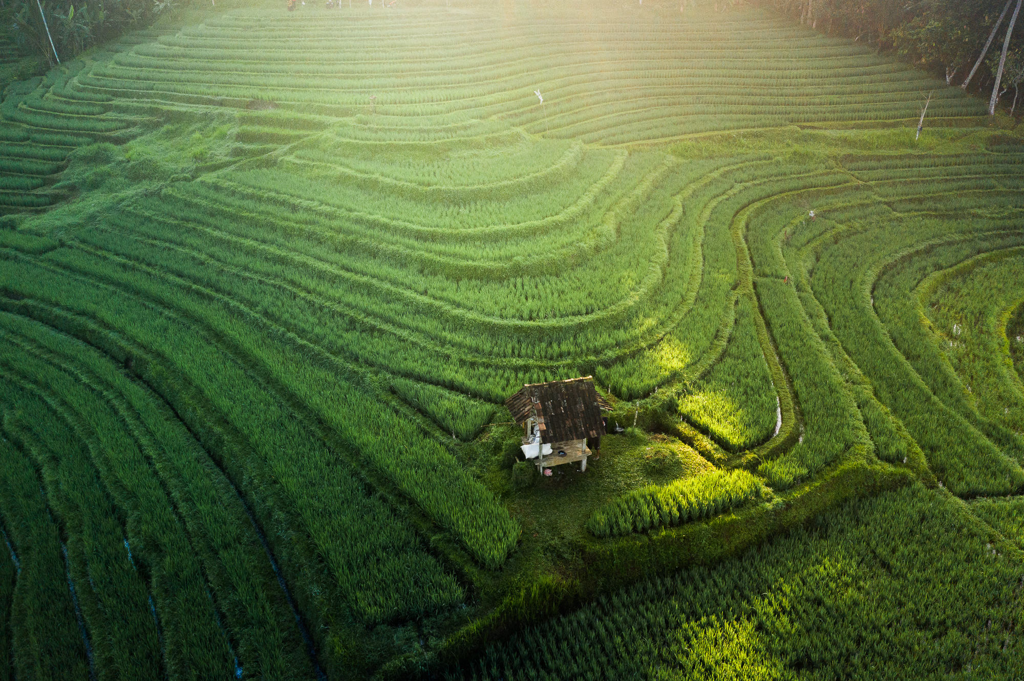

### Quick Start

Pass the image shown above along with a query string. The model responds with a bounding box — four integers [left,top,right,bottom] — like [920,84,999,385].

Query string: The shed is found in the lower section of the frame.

[508,372,616,475]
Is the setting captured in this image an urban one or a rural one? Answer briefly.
rural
